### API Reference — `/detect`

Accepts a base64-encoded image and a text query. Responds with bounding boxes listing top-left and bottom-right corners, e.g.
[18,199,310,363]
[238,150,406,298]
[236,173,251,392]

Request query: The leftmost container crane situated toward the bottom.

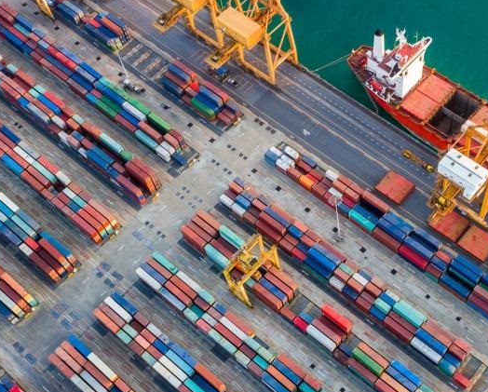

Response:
[224,236,284,308]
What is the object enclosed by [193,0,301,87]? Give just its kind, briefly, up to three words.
container crane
